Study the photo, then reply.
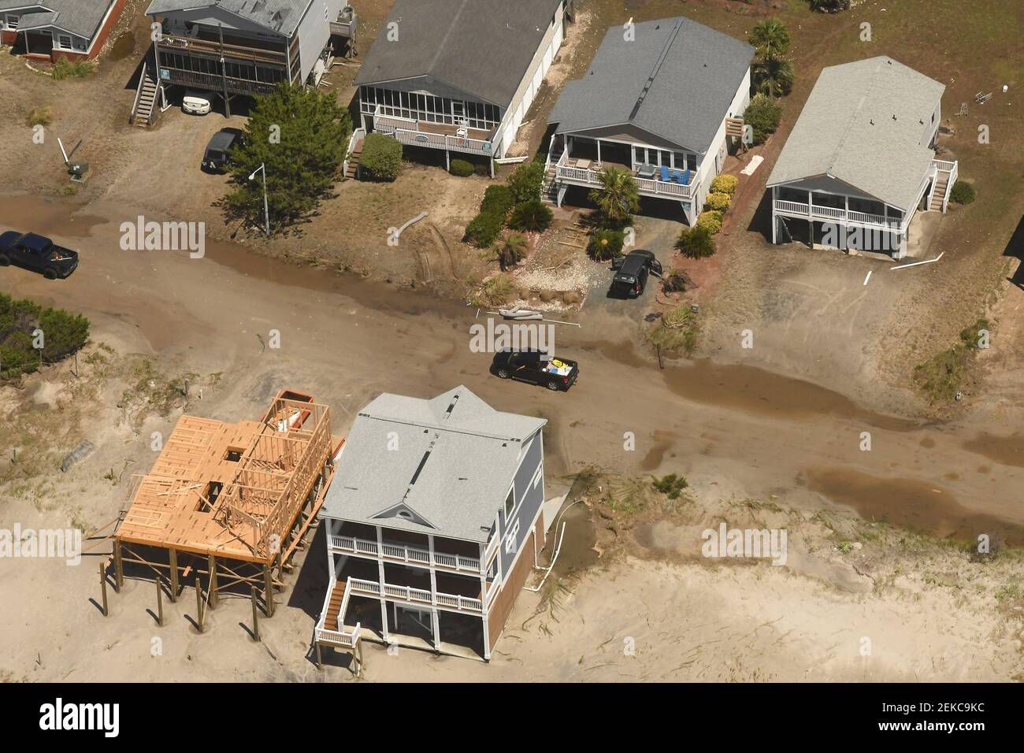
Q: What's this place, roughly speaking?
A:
residential area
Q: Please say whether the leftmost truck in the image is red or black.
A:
black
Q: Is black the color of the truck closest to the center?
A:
Yes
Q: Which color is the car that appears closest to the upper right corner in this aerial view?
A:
black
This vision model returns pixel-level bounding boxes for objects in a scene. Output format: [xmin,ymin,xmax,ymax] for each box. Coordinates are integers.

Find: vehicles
[180,89,218,112]
[612,240,666,292]
[0,231,80,276]
[485,344,582,390]
[204,123,246,166]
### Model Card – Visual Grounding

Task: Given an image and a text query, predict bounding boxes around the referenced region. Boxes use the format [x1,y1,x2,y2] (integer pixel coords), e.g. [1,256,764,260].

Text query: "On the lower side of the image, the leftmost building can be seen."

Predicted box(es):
[111,397,335,618]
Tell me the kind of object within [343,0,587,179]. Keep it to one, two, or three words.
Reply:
house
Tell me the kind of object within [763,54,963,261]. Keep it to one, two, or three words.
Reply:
house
